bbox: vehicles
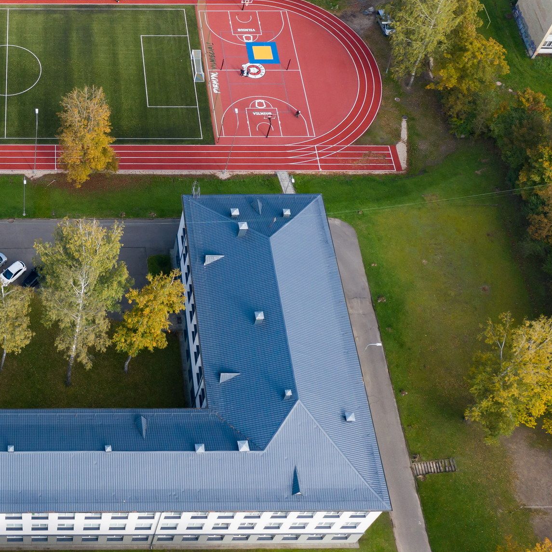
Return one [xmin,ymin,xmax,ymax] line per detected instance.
[0,259,27,287]
[0,250,8,265]
[19,265,47,293]
[374,12,392,34]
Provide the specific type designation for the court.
basketball court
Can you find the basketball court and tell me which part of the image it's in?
top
